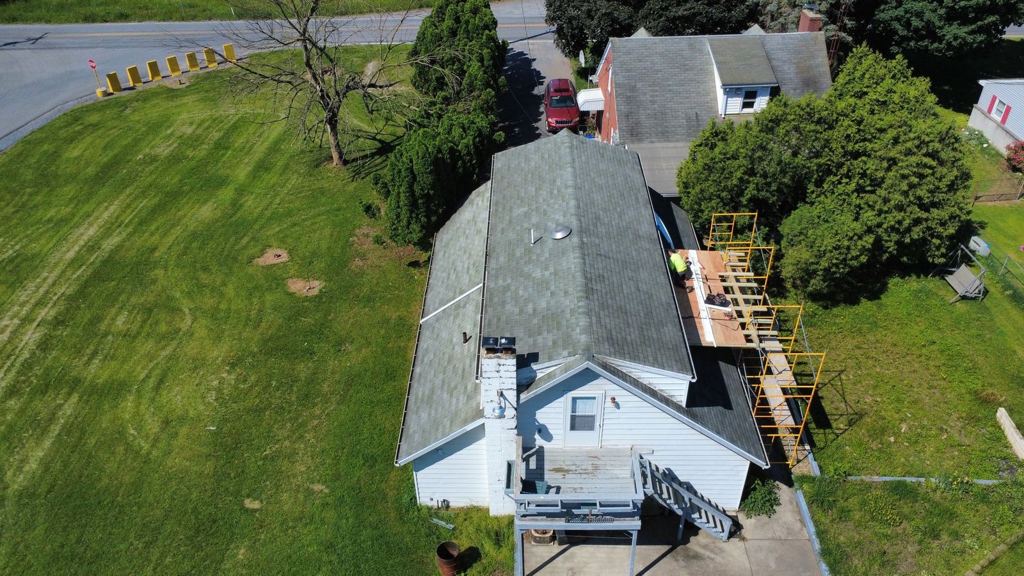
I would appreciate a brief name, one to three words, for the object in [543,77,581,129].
car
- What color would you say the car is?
red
